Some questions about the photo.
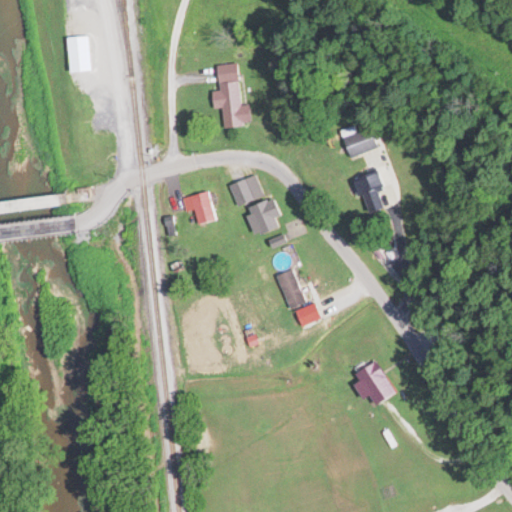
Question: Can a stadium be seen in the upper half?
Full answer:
No, I see no stadium in the upper half.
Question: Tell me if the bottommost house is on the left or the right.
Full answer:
The bottommost house is on the right side of the image.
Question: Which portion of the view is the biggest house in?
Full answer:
The biggest house is in the top part of the image.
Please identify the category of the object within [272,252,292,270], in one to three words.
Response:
swimming pool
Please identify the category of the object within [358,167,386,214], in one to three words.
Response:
house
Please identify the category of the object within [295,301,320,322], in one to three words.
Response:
building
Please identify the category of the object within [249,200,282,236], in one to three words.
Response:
house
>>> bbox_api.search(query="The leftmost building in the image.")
[68,35,92,72]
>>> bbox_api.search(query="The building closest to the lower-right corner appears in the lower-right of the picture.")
[354,362,395,406]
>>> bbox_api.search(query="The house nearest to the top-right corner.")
[340,128,376,157]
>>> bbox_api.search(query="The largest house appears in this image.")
[212,62,252,128]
